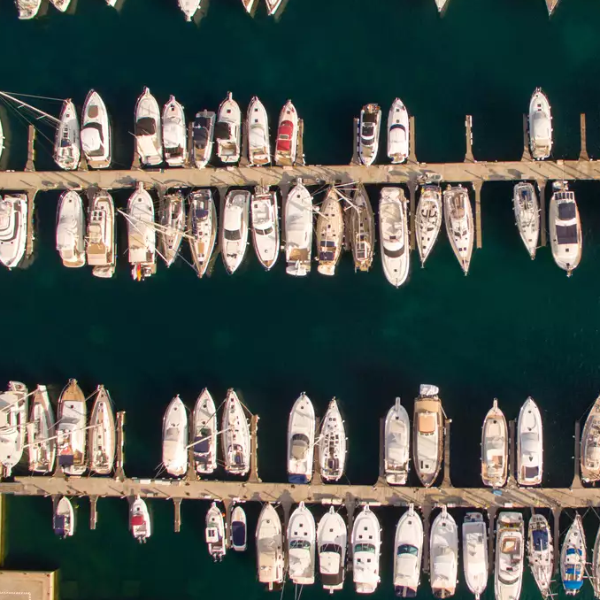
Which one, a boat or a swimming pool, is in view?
boat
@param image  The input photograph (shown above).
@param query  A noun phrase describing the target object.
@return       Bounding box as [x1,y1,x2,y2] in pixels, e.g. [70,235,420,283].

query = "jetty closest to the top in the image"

[0,113,600,258]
